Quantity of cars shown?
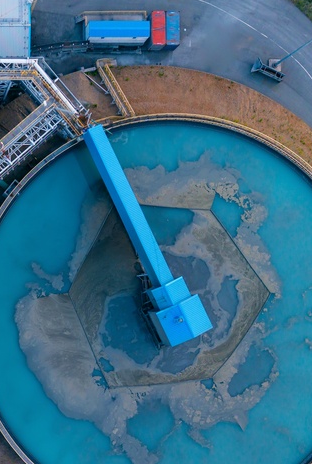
0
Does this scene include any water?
Yes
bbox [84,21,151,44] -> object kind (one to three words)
shed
